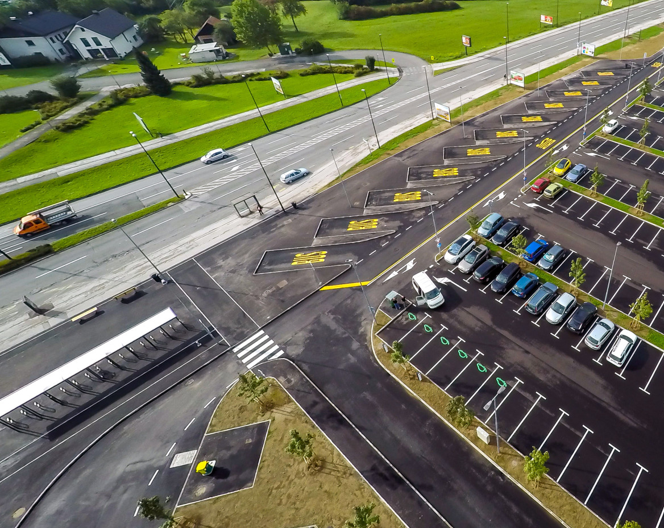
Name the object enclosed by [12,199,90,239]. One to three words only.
truck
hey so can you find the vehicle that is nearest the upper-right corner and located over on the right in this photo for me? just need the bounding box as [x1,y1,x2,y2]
[605,118,622,132]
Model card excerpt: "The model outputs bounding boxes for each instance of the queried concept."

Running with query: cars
[565,162,588,180]
[277,167,310,185]
[487,263,520,297]
[542,294,573,329]
[601,327,636,369]
[440,238,473,267]
[583,319,613,354]
[554,157,574,175]
[542,183,564,201]
[562,306,594,340]
[471,256,505,285]
[540,241,568,267]
[495,218,524,243]
[200,147,230,164]
[480,210,508,236]
[521,285,555,318]
[529,178,551,195]
[455,246,489,275]
[527,235,552,258]
[605,118,622,132]
[503,276,535,305]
